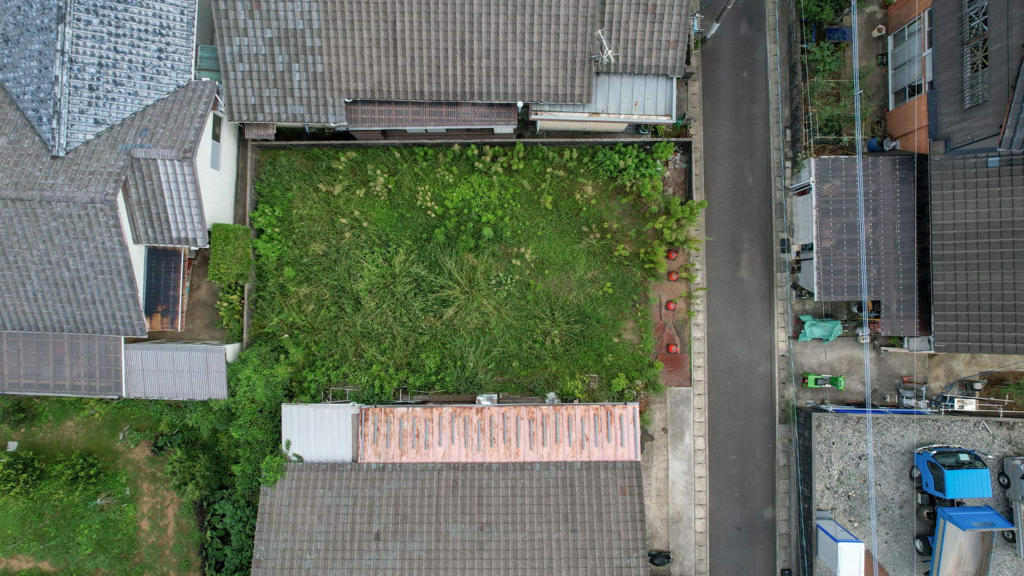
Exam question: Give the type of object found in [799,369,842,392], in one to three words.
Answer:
work vehicle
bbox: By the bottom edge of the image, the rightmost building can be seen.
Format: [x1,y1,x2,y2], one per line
[252,398,649,576]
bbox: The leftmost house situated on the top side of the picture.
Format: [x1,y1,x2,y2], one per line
[0,0,241,399]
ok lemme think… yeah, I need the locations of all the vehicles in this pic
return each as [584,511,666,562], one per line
[1000,455,1024,564]
[910,440,1012,576]
[648,549,681,572]
[799,369,842,392]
